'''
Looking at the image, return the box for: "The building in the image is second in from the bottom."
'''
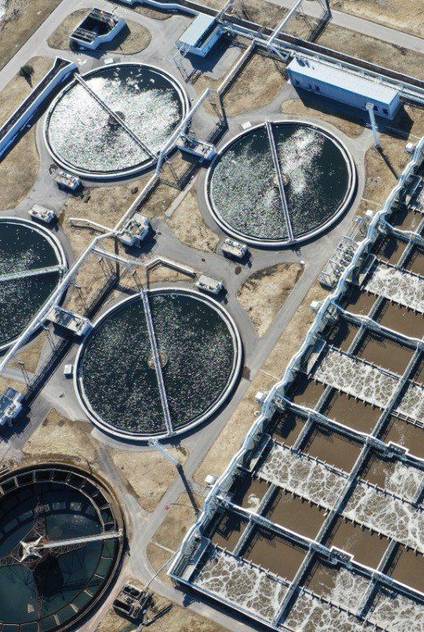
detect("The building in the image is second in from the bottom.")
[287,52,399,120]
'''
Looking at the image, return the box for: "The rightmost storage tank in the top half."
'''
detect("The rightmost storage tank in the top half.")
[206,117,357,249]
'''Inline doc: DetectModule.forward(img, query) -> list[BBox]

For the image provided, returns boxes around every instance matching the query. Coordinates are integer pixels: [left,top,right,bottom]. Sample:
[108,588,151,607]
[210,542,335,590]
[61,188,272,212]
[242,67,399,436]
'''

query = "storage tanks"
[42,61,192,181]
[0,216,71,355]
[74,286,244,444]
[206,117,357,249]
[0,465,131,632]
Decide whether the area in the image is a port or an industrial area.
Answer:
industrial area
